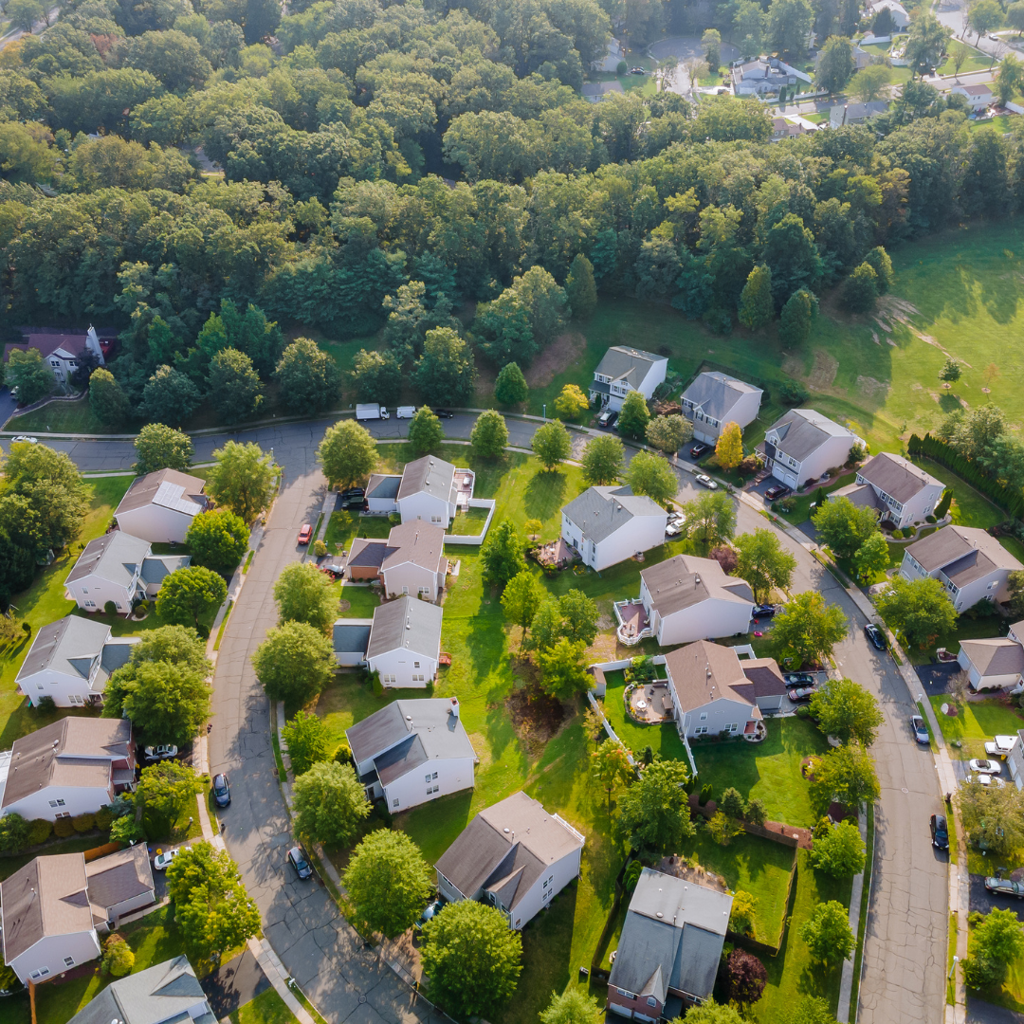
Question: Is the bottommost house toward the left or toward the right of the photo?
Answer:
left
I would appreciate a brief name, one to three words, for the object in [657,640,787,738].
house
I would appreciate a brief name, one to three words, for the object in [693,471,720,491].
car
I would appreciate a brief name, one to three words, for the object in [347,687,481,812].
house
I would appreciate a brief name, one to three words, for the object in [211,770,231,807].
car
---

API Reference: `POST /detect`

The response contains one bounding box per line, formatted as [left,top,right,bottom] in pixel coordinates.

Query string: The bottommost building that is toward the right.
[607,867,734,1024]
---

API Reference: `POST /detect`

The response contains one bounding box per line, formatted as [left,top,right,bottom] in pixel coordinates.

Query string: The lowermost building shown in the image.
[44,954,201,1024]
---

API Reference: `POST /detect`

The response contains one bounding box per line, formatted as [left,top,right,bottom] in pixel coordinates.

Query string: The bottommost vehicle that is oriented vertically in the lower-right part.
[929,810,952,850]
